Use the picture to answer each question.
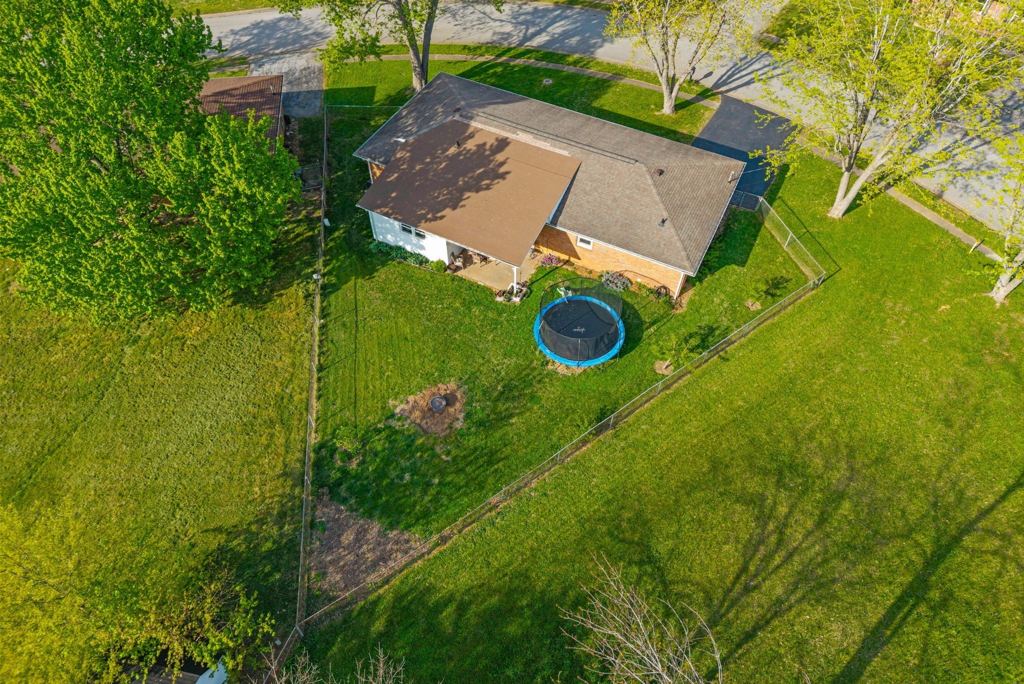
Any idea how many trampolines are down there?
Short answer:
1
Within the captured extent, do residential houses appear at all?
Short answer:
Yes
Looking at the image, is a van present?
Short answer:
No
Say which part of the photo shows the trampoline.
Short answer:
center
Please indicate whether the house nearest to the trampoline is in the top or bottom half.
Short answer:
top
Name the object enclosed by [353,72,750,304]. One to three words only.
house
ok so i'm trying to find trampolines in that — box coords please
[533,275,624,374]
